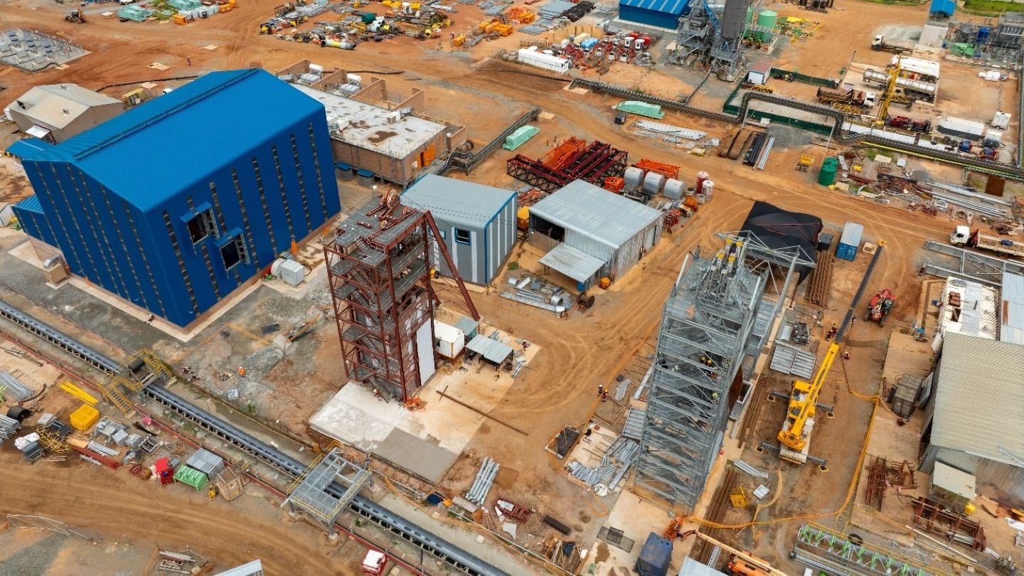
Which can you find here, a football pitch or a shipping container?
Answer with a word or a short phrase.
shipping container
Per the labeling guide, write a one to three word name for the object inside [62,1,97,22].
work vehicle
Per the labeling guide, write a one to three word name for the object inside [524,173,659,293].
building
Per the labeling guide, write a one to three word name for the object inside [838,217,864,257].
shipping container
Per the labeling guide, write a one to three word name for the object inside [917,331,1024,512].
shed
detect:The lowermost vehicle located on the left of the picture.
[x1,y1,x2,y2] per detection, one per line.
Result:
[353,541,390,576]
